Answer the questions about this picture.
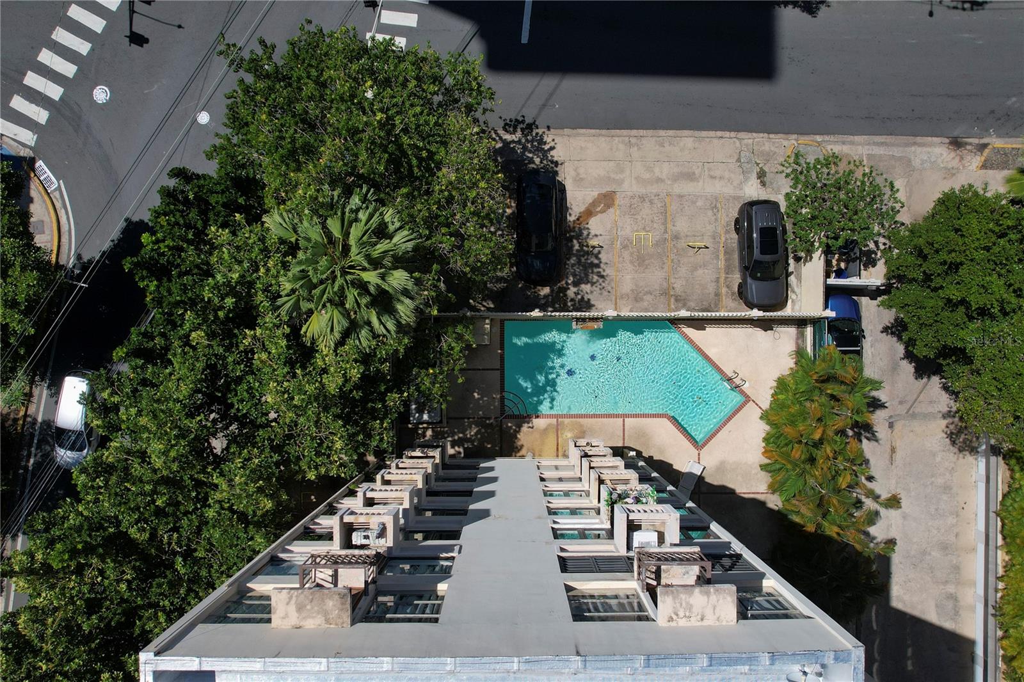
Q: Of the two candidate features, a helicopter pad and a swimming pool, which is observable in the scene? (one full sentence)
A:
I can see a swimming pool in this picture.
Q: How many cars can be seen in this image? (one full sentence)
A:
Looking from above, you can make out 4 cars.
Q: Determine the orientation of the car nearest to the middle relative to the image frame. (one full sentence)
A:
I'd say the car nearest to the middle is aligned vertically in the picture.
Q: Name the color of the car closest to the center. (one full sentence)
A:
From above, the car closest to the center appears black.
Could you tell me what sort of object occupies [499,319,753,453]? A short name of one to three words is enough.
swimming pool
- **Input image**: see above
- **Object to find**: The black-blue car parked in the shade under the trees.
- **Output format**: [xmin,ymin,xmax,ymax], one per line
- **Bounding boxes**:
[516,173,567,283]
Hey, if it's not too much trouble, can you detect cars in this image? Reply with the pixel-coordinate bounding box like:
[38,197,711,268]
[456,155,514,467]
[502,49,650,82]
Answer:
[733,200,792,311]
[516,173,567,283]
[822,295,872,368]
[47,371,106,468]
